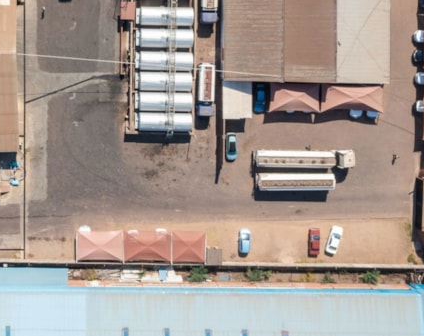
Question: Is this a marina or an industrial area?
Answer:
industrial area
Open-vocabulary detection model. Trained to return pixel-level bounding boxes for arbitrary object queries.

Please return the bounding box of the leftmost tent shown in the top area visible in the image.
[267,83,321,113]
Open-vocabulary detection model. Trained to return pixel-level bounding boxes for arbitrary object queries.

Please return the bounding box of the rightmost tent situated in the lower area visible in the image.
[171,228,206,263]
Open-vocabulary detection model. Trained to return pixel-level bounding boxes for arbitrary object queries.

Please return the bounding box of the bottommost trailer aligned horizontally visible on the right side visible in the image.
[257,172,340,190]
